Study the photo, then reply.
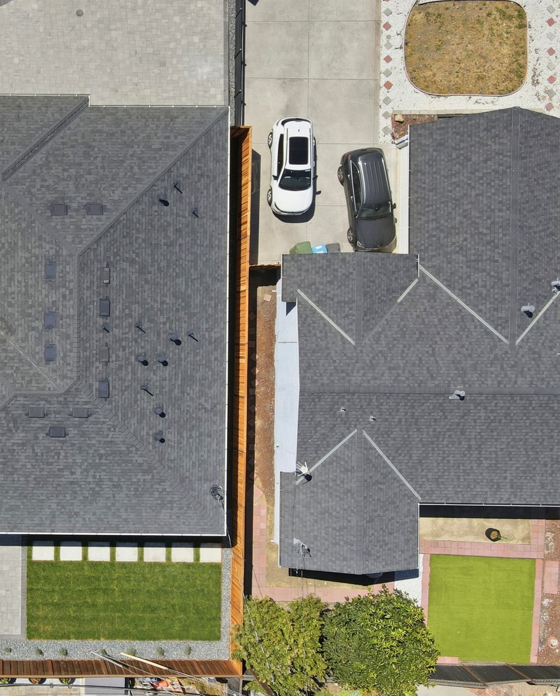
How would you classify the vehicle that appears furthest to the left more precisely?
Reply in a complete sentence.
I'd identify the vehicle that appears furthest to the left as an automobile.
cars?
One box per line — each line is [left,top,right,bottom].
[267,113,323,217]
[341,143,404,252]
